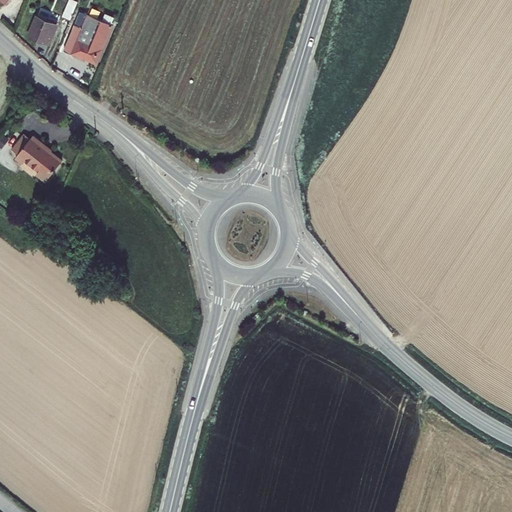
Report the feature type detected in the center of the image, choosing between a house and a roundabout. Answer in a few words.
roundabout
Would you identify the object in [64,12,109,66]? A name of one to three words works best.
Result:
house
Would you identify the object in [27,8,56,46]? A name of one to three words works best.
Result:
house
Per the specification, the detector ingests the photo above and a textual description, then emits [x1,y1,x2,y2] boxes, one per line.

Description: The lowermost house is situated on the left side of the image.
[12,134,60,182]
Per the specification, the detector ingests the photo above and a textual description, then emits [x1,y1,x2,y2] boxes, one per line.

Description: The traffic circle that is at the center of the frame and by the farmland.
[188,166,308,300]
